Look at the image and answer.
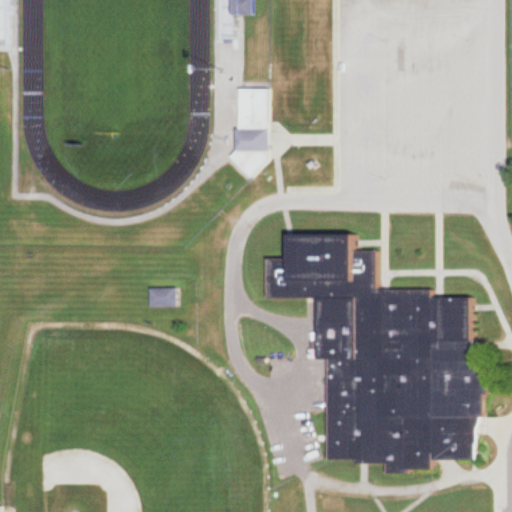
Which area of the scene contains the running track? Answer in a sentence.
The running track is in the top left part of the image.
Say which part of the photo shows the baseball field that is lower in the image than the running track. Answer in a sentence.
The baseball field that is lower in the image than the running track is in the bottom left part of the image.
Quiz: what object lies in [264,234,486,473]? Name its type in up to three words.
building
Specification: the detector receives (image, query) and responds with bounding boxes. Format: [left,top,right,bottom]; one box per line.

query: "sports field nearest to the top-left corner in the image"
[43,0,190,191]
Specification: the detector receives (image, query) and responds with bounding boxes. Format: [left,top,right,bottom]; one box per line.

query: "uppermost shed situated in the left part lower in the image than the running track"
[149,288,179,308]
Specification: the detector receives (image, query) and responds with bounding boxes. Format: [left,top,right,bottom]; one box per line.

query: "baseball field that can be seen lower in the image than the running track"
[2,322,270,512]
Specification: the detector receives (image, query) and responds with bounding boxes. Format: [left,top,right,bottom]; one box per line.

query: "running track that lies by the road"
[23,0,210,210]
